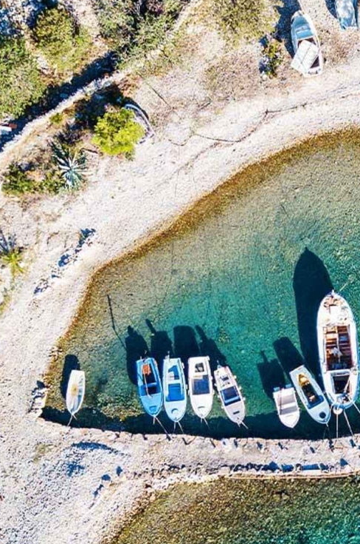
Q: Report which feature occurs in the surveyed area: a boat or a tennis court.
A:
boat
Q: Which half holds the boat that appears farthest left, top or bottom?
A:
bottom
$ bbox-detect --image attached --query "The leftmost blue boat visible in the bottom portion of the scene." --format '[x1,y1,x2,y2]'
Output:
[133,354,171,441]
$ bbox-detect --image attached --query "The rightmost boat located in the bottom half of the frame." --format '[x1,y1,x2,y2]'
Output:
[314,272,360,441]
